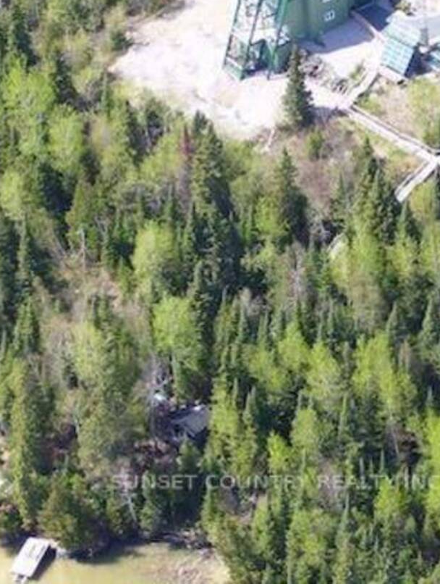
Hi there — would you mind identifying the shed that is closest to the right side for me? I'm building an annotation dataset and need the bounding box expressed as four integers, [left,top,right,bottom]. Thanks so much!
[379,14,430,75]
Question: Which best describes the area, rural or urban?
rural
